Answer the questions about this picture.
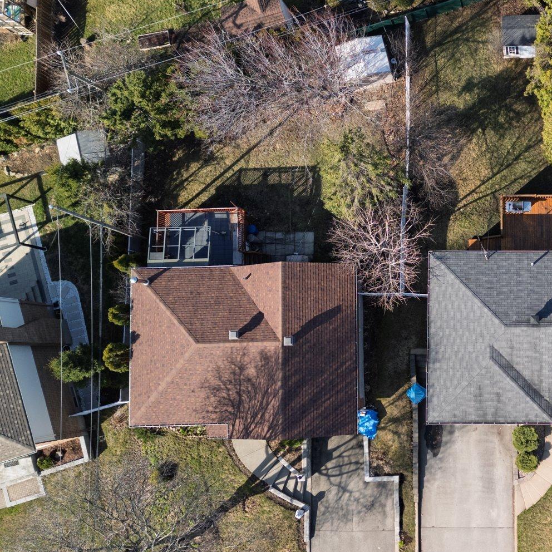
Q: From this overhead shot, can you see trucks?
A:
No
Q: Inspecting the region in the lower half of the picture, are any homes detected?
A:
Yes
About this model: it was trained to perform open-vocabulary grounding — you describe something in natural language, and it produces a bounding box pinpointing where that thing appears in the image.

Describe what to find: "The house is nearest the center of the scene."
[126,262,365,441]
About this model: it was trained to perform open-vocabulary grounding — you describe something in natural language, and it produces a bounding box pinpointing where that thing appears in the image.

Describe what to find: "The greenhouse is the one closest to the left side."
[0,0,34,35]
